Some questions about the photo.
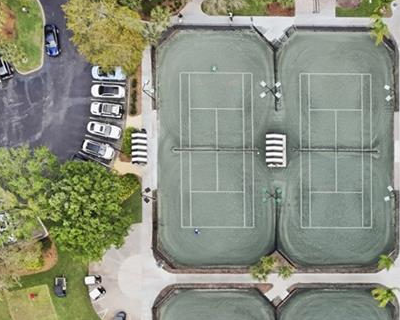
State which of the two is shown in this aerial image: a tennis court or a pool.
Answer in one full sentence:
Looking from above, you can make out a tennis court.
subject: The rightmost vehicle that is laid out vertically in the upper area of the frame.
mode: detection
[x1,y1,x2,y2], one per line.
[44,23,59,56]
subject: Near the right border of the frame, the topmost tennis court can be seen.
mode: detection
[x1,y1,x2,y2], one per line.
[276,32,395,267]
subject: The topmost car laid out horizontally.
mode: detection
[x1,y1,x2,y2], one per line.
[93,66,127,80]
